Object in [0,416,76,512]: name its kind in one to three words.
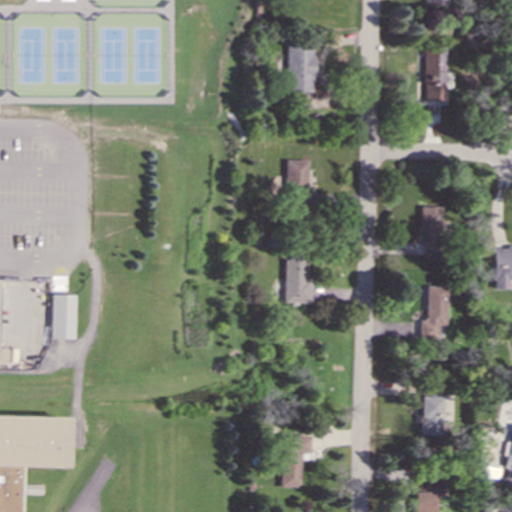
building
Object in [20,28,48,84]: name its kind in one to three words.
tennis court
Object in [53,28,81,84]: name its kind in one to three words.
tennis court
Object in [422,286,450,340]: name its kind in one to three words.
house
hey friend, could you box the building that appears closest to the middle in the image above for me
[286,260,316,304]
